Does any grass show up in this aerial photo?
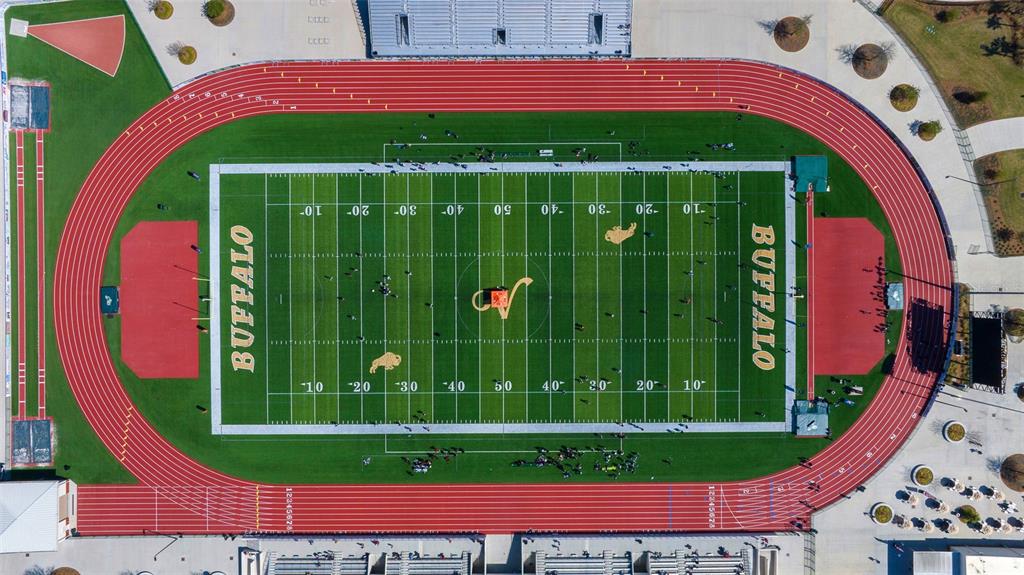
Yes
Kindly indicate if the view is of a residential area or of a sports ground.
sports ground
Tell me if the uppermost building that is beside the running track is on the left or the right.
left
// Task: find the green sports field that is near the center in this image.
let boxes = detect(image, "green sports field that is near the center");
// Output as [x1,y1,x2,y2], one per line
[209,124,796,470]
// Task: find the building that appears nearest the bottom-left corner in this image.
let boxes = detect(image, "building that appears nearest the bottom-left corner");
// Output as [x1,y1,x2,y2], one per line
[0,481,78,554]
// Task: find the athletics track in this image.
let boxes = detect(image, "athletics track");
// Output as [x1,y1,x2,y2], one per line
[54,60,954,538]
